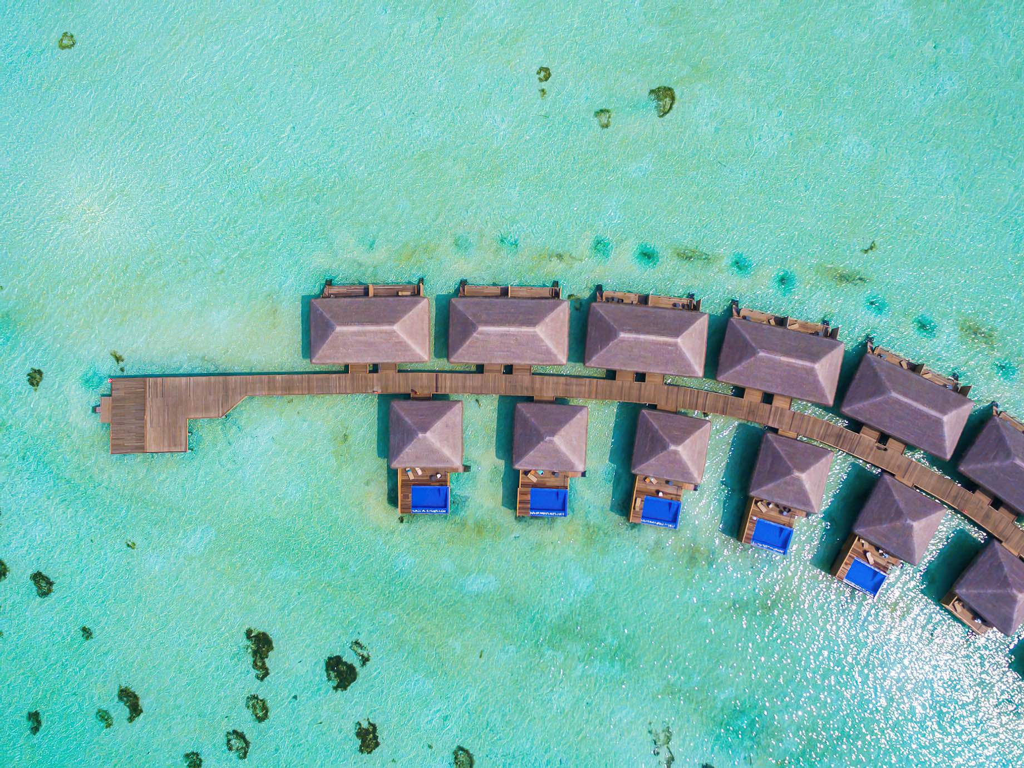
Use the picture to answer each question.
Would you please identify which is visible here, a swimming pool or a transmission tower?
swimming pool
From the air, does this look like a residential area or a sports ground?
residential area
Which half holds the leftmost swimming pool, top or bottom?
bottom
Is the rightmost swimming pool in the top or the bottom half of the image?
bottom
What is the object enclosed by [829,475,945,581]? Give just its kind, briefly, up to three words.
house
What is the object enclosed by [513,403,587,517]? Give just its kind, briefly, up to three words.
house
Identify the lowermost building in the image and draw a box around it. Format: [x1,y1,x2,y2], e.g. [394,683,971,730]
[932,540,1024,637]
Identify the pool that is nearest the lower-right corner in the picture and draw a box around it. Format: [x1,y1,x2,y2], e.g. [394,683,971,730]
[842,556,887,600]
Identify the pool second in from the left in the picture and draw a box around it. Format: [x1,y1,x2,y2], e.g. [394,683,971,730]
[529,488,568,518]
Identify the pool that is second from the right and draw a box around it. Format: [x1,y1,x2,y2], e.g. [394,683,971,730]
[750,518,793,555]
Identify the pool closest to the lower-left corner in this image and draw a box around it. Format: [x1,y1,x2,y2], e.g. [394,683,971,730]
[411,485,450,514]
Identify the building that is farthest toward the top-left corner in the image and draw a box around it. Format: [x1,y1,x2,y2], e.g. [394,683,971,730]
[311,279,429,364]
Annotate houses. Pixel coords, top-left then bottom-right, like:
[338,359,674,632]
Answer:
[955,400,1024,514]
[513,403,587,517]
[311,279,429,364]
[449,281,568,365]
[585,286,708,377]
[717,302,844,406]
[829,475,945,581]
[627,410,710,522]
[737,433,832,544]
[840,338,973,460]
[932,540,1024,637]
[391,401,472,516]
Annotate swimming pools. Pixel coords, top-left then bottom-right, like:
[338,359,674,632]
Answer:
[641,495,681,529]
[750,518,793,555]
[529,488,568,518]
[842,556,887,600]
[411,485,450,514]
